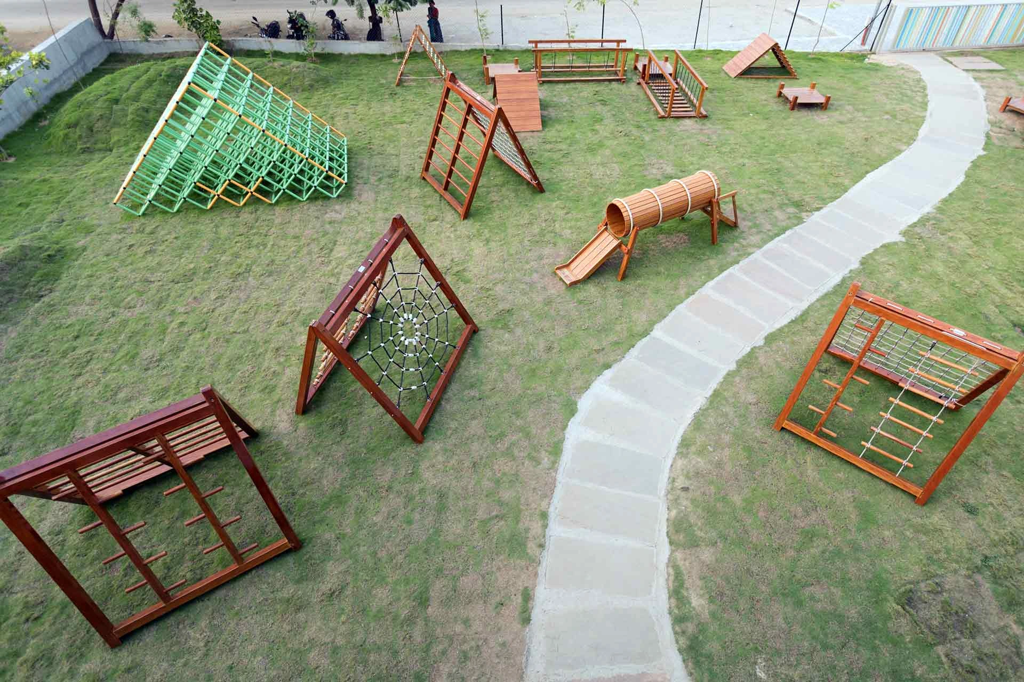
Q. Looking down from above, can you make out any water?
No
